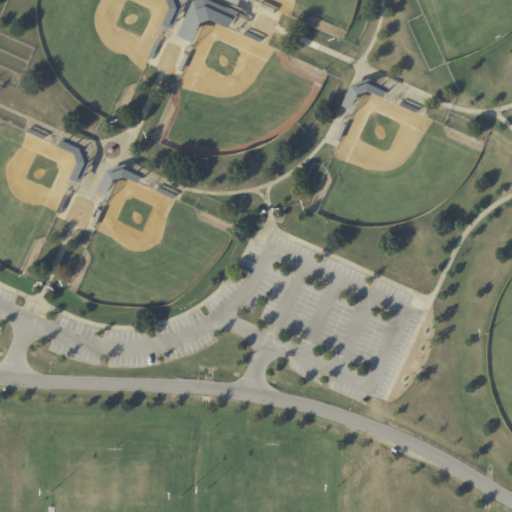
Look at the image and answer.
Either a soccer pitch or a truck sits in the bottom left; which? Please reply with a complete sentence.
What appears in the bottom left is a soccer pitch.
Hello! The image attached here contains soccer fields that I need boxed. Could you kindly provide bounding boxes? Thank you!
[0,404,197,512]
[199,412,338,512]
